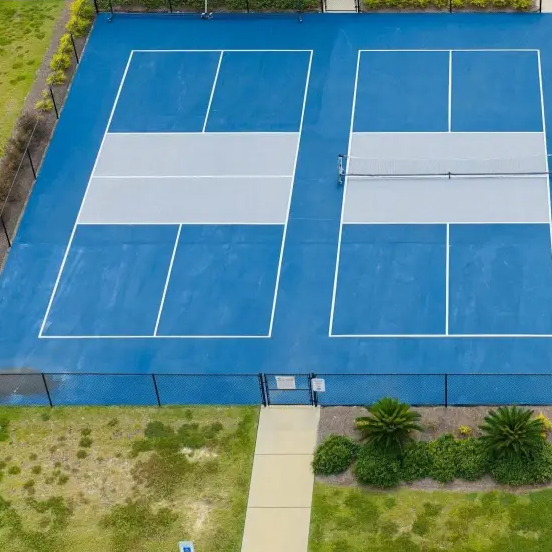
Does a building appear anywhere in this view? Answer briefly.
No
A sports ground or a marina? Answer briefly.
sports ground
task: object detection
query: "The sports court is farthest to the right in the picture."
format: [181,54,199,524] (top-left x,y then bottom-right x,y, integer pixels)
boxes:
[329,50,552,337]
